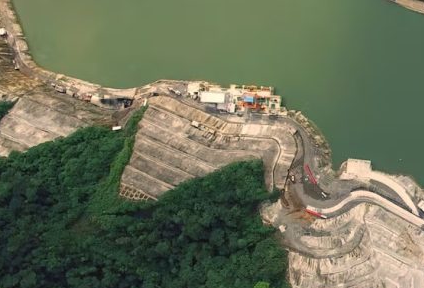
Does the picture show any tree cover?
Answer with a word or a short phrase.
Yes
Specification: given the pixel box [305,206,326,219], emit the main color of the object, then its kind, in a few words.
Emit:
red vehicle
